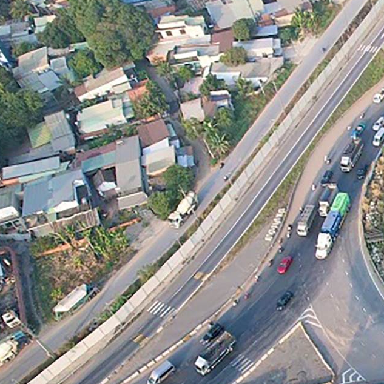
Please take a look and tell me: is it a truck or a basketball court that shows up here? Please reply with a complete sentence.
The one in the frame is a truck.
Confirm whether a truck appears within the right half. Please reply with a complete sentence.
Yes, a truck is visible within the right half.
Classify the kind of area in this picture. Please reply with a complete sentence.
The area seen from above is a residential area.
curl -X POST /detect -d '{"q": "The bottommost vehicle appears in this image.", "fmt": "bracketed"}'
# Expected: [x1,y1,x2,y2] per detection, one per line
[146,360,177,384]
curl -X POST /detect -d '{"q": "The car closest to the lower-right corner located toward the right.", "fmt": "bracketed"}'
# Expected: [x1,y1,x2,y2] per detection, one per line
[276,293,295,312]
